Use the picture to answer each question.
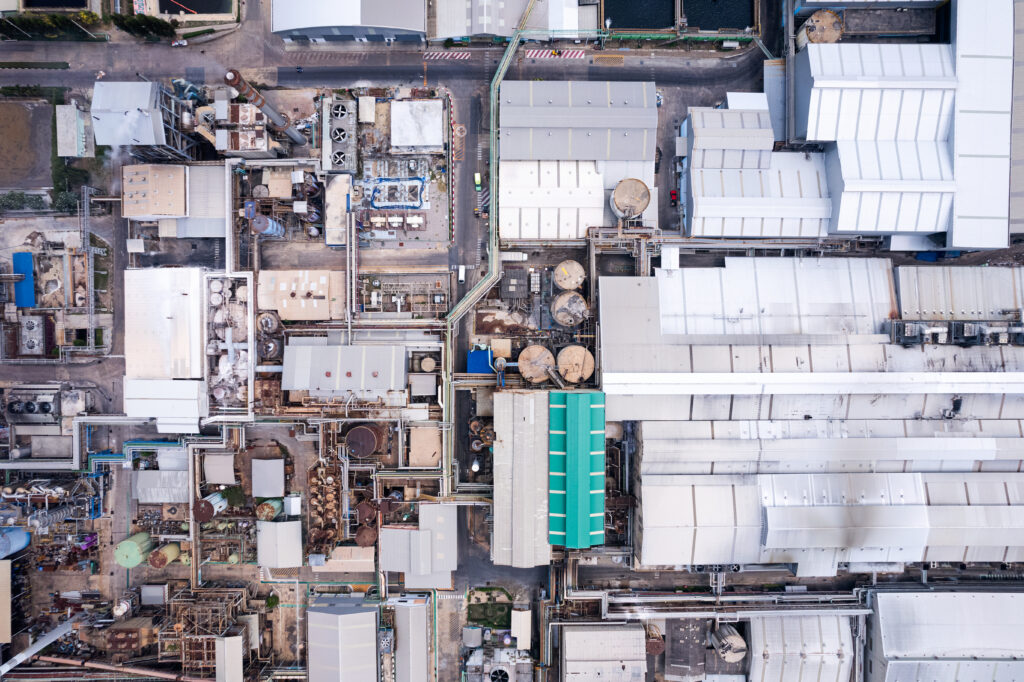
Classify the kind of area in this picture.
industrial area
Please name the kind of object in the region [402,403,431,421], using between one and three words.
building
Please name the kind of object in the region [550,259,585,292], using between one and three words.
storage tank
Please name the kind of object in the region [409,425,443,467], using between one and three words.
building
